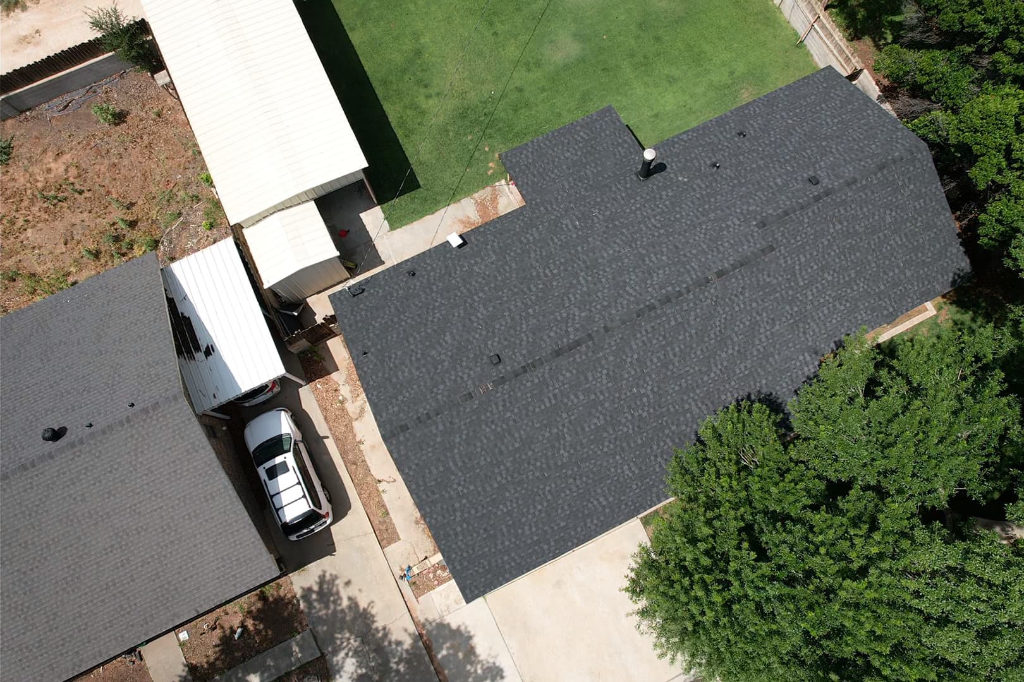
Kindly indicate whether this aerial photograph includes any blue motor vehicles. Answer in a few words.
No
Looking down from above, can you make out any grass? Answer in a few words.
Yes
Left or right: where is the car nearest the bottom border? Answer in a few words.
left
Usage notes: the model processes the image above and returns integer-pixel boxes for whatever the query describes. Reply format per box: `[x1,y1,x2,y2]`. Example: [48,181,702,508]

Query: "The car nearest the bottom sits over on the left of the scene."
[251,407,335,548]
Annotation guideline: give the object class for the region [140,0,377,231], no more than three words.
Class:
building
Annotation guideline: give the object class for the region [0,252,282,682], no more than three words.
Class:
house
